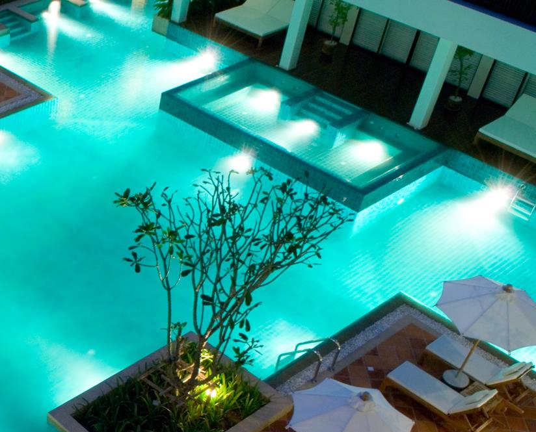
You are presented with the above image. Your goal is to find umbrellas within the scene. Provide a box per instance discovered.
[281,375,421,432]
[429,275,536,390]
